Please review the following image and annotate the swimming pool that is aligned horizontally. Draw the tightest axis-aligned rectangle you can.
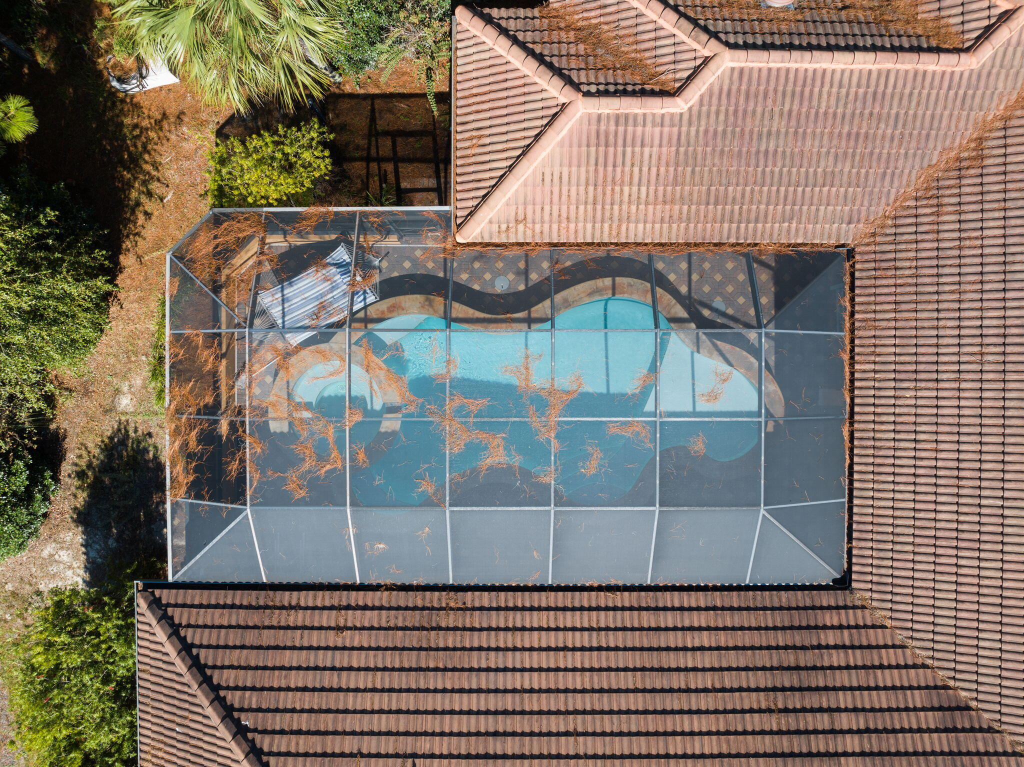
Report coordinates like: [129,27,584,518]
[269,277,781,532]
